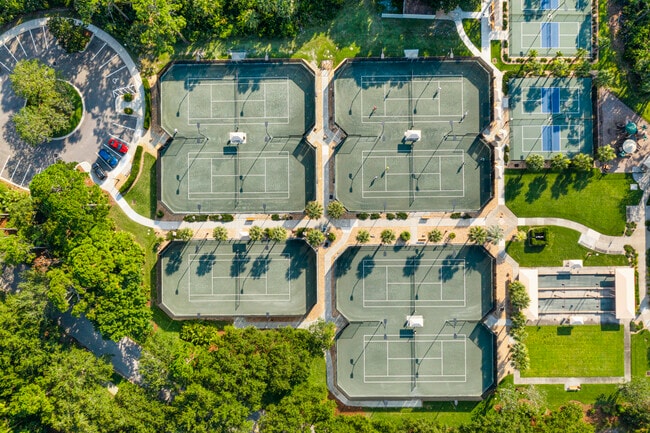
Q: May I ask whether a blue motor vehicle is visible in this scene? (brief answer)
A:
Yes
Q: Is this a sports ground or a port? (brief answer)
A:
sports ground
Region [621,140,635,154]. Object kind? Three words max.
umbrella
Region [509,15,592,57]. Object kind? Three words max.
sports court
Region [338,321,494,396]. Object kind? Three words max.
tennis court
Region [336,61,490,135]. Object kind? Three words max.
tennis court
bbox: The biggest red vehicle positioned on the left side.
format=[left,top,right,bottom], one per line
[107,137,128,153]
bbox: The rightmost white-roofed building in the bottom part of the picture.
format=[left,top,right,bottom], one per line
[609,267,634,318]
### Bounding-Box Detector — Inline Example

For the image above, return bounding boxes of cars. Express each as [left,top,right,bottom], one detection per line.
[89,161,107,180]
[96,147,117,166]
[107,137,128,153]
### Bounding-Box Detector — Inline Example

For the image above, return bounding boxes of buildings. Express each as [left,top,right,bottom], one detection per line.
[609,267,634,318]
[515,268,537,319]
